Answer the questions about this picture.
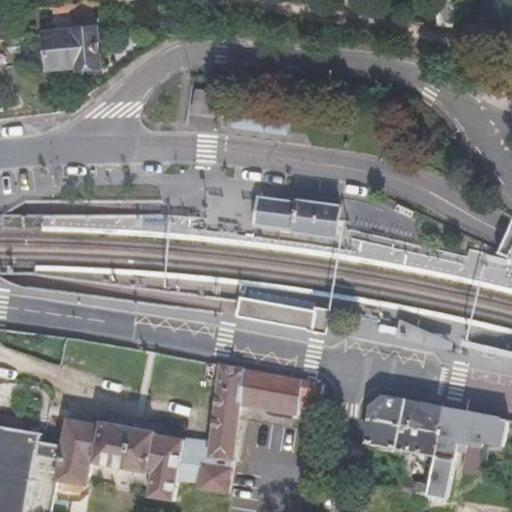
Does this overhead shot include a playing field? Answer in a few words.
No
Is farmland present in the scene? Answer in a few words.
No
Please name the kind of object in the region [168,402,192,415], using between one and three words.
vehicle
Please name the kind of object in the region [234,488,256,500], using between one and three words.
vehicle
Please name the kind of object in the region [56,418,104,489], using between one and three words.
house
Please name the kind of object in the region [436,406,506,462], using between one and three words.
building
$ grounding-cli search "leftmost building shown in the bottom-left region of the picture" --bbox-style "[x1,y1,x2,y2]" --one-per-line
[0,427,47,512]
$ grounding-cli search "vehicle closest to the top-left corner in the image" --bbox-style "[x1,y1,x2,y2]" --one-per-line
[2,126,24,138]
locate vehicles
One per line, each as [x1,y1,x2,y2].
[2,126,24,138]
[168,402,192,415]
[143,164,162,174]
[282,429,294,452]
[264,174,285,185]
[234,488,256,500]
[0,369,21,380]
[20,173,30,194]
[242,170,262,182]
[1,175,12,196]
[258,424,268,447]
[65,166,88,177]
[343,184,367,197]
[234,476,256,488]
